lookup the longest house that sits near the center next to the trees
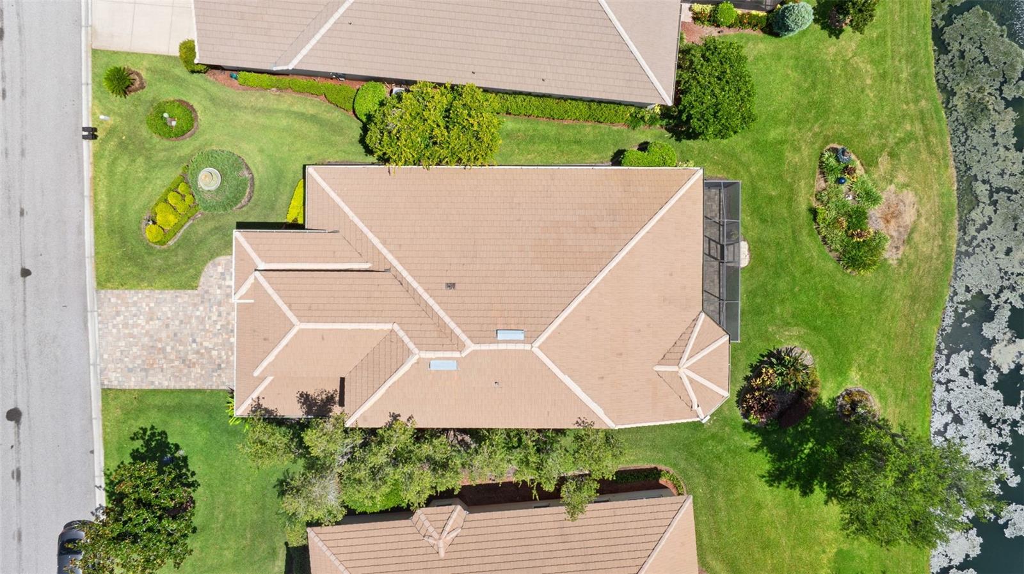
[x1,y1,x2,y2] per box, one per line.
[232,165,731,430]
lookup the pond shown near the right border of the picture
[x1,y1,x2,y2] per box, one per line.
[922,0,1024,574]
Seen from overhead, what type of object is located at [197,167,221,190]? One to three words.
fountain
